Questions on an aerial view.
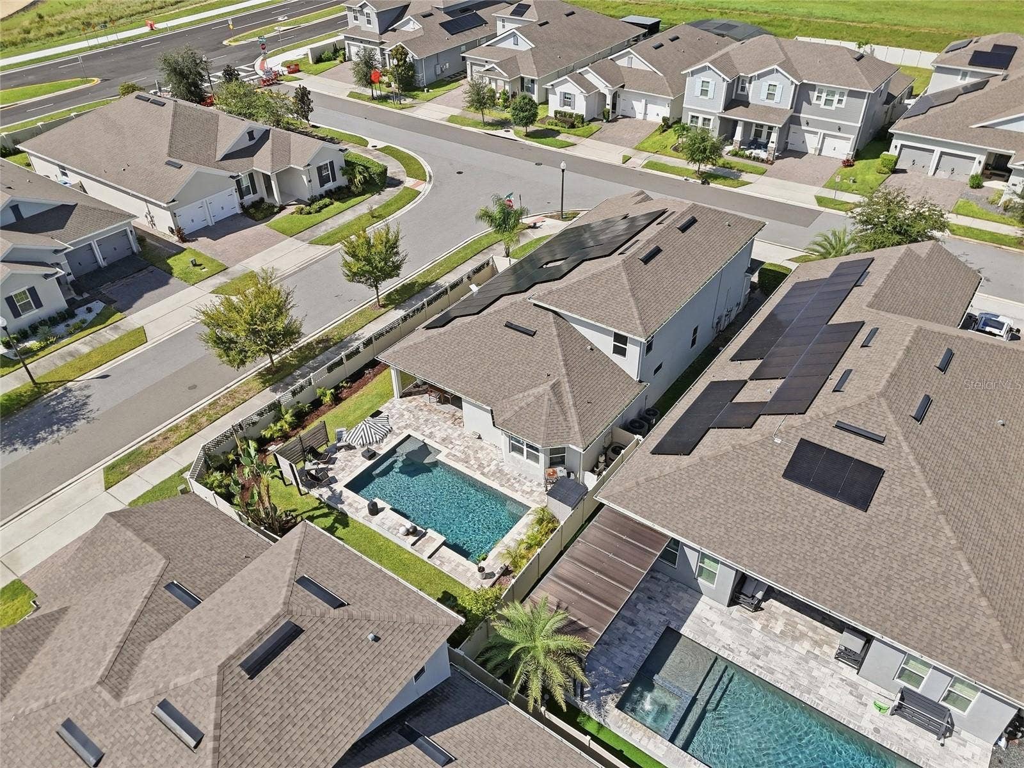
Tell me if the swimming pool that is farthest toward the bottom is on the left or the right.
right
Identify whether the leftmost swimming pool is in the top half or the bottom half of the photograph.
bottom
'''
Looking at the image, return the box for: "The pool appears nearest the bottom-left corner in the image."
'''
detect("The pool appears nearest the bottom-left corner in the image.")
[287,429,540,598]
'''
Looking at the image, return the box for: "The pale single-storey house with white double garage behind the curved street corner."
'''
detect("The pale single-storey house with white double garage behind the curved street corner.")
[14,92,351,232]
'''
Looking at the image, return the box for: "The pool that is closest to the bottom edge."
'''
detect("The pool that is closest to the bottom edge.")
[606,619,938,768]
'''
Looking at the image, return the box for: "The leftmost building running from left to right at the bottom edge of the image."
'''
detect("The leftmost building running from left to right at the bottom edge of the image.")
[0,484,604,768]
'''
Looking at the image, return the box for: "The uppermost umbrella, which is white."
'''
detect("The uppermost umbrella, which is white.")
[343,419,391,459]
